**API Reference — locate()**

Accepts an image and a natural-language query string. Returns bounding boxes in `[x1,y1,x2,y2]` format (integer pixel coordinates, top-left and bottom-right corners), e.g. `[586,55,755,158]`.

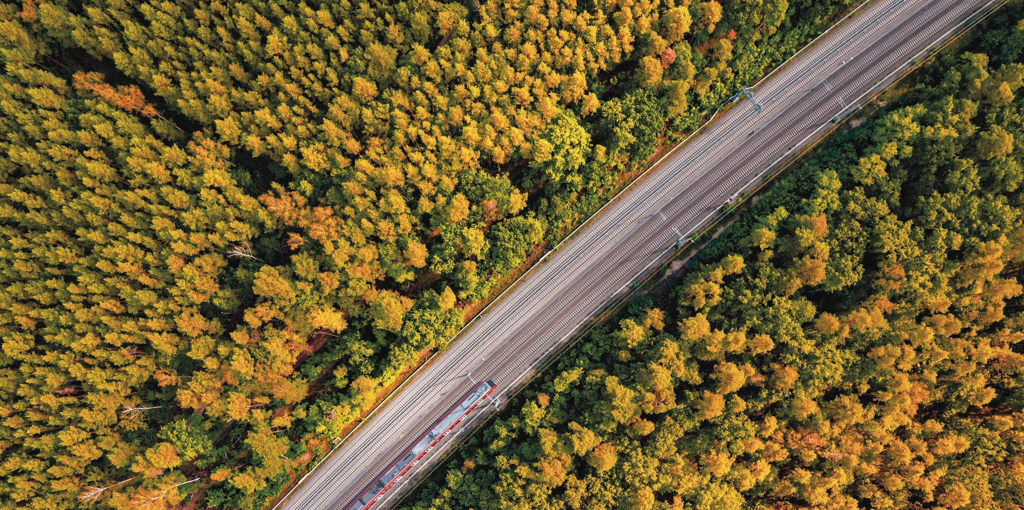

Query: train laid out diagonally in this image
[350,379,498,510]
